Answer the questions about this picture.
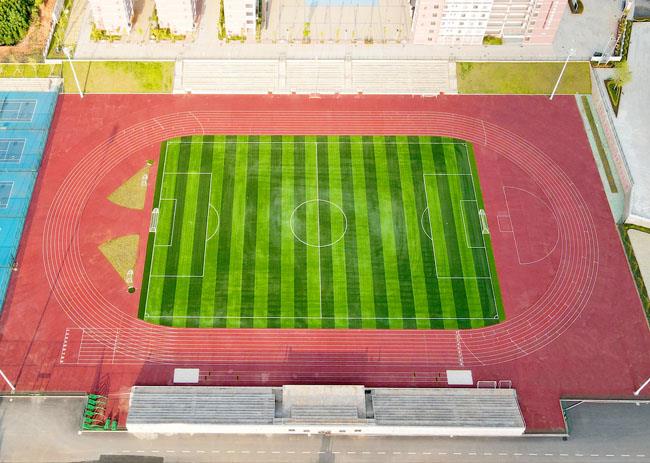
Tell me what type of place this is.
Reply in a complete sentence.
What you see here is a sports ground.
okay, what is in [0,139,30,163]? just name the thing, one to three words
tennis court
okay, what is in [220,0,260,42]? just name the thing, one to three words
building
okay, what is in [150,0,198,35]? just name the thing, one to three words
building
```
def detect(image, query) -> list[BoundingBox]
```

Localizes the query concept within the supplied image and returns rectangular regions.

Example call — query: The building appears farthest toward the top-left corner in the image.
[83,0,136,34]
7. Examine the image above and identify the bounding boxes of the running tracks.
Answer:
[0,93,650,434]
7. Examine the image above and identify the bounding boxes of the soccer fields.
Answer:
[138,135,506,330]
